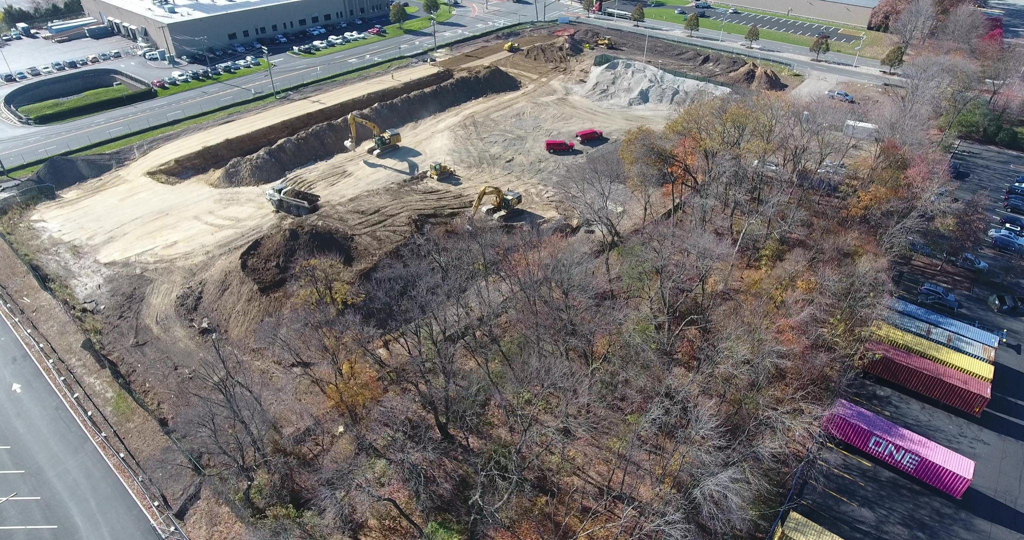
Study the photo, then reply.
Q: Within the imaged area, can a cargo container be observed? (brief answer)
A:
Yes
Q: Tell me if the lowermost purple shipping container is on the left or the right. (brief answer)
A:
right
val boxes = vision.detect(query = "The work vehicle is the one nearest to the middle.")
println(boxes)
[463,183,525,227]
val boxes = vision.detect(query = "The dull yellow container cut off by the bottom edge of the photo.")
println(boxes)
[775,511,839,540]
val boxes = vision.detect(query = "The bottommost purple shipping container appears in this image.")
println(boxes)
[822,399,975,499]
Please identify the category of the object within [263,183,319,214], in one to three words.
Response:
truck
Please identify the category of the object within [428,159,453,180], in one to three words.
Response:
work vehicle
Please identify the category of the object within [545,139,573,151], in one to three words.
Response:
vehicle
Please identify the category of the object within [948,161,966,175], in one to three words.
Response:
car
